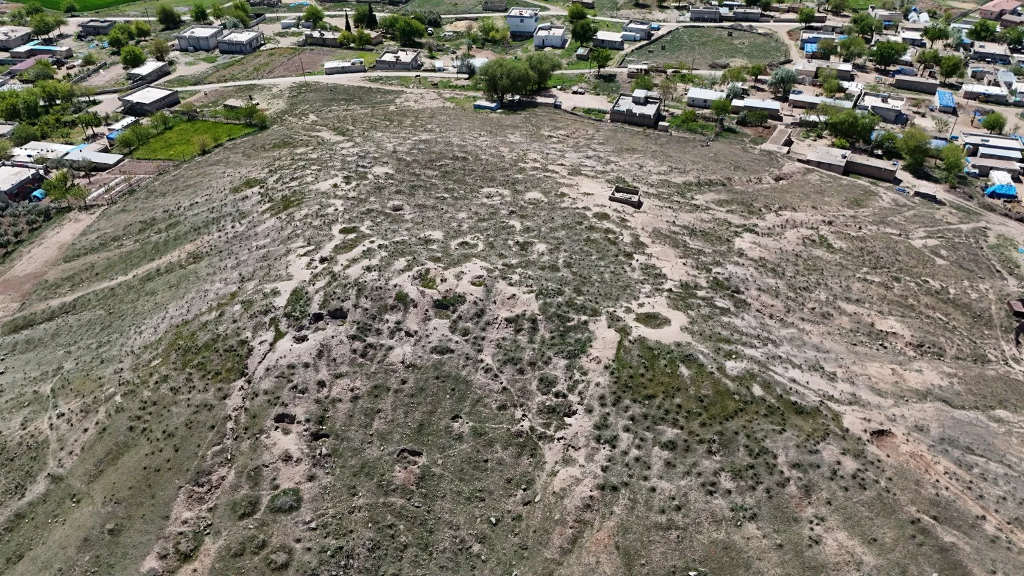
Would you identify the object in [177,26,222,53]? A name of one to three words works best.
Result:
house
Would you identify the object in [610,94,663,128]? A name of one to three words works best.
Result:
house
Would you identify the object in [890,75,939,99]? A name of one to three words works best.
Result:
barn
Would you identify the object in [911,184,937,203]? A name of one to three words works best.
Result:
shed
